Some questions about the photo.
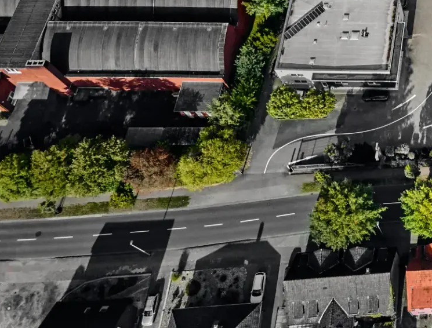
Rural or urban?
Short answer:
urban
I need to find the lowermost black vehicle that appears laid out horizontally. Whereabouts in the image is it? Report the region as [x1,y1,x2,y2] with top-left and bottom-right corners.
[361,89,391,102]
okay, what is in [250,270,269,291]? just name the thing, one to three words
car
